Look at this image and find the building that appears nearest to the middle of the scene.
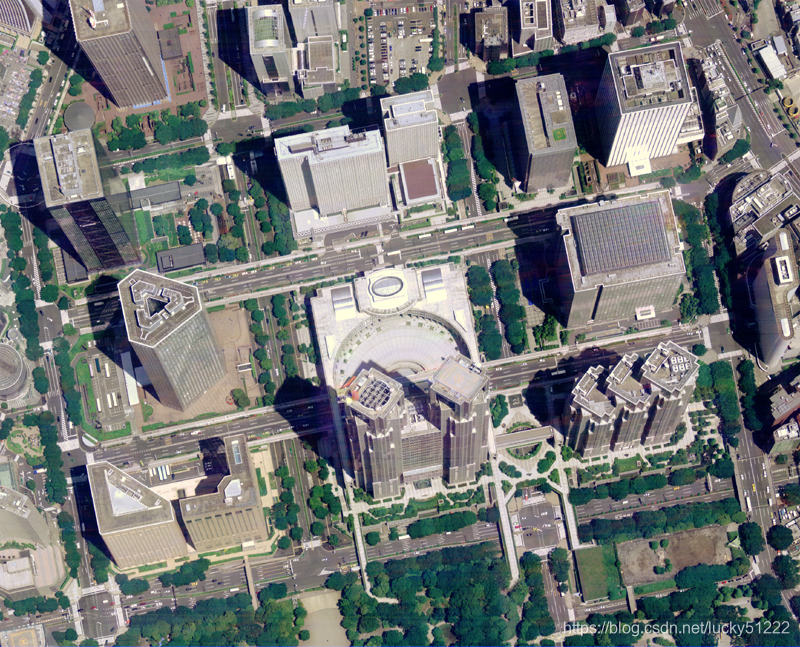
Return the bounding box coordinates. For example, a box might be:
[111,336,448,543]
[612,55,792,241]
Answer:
[310,264,479,391]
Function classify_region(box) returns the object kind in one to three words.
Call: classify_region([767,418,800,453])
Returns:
building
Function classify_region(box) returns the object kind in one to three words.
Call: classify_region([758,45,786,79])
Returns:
building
